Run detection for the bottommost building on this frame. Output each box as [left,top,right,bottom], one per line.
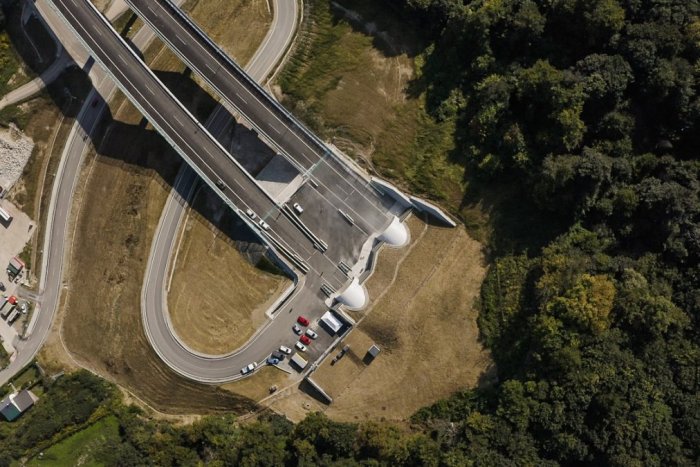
[0,389,38,422]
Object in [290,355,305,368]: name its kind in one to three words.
vehicle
